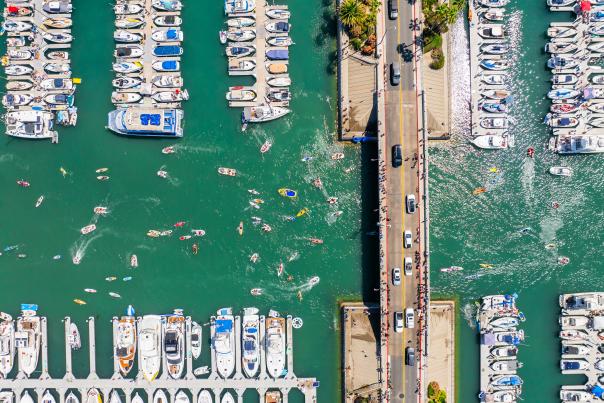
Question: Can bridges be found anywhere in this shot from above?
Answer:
Yes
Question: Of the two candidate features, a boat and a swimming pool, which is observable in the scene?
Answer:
boat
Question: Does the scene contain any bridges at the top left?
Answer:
No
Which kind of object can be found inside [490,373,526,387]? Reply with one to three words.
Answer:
boat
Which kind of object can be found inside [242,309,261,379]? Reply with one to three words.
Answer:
boat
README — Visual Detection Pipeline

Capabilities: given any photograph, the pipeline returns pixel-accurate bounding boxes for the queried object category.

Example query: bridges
[377,90,431,356]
